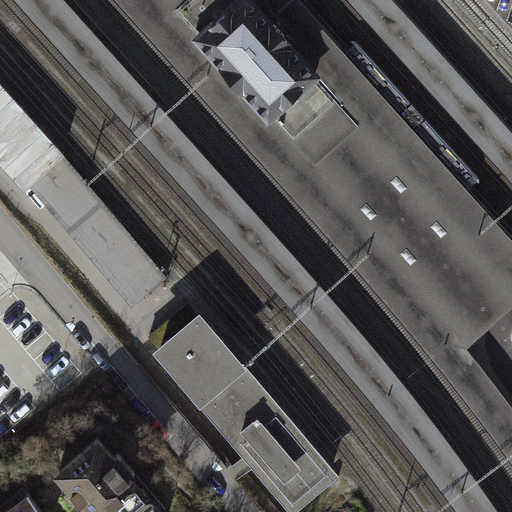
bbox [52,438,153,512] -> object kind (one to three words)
house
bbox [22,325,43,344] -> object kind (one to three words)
car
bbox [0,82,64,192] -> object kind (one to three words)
shed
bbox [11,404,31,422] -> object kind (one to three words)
car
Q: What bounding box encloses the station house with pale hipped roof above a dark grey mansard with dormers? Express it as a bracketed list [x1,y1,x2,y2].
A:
[192,0,321,126]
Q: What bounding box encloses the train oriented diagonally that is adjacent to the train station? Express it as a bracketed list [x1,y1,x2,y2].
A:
[346,40,477,186]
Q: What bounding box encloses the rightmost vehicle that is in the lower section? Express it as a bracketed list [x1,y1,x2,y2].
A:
[208,476,227,495]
